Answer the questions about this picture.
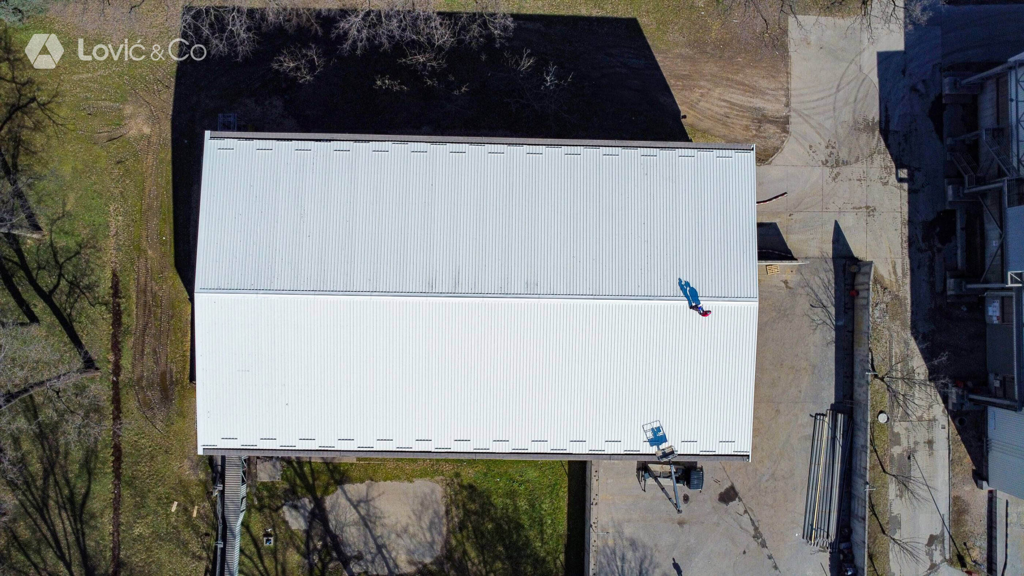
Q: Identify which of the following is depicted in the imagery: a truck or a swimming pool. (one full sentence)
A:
The image shows a truck.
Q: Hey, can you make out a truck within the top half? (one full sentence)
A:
No, no truck appears within the top half.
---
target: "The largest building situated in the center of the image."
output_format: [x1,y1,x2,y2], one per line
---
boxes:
[194,132,758,462]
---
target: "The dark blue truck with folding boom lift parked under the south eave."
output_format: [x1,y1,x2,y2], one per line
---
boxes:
[636,443,705,515]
